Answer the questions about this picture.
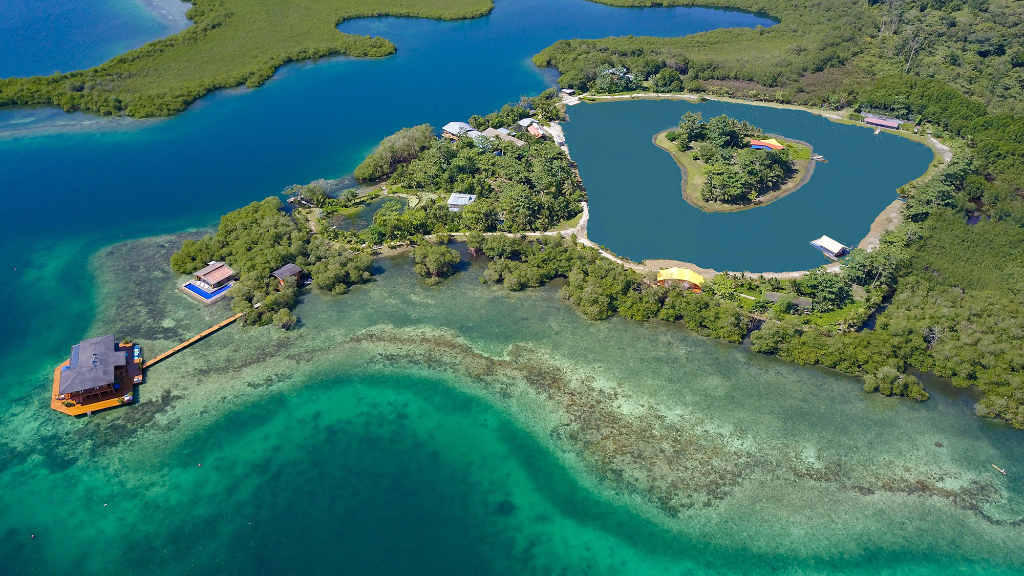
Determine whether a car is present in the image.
No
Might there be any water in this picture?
Yes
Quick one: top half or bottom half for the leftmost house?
bottom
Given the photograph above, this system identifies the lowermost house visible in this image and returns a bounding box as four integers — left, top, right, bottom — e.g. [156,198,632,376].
[51,333,143,417]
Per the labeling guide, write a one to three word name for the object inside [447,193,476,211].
building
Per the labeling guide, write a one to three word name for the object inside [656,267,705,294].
house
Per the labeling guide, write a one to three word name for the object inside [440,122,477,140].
house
